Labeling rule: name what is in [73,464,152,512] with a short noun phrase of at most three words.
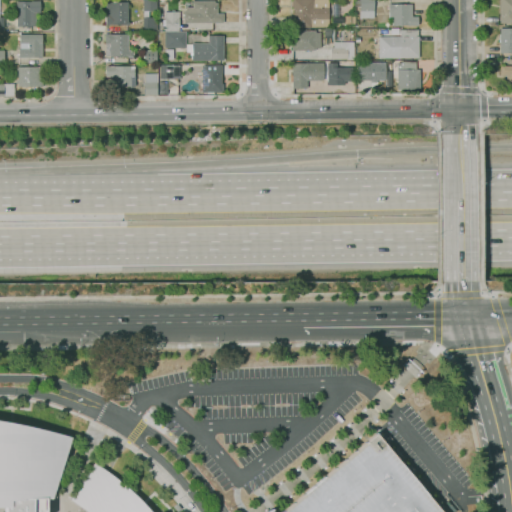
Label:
building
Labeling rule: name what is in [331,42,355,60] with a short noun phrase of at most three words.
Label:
house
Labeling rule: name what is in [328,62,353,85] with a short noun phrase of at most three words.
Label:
house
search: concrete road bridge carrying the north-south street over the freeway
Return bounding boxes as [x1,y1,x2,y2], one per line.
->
[438,125,486,290]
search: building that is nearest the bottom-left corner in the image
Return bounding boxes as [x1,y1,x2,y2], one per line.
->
[0,420,74,512]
